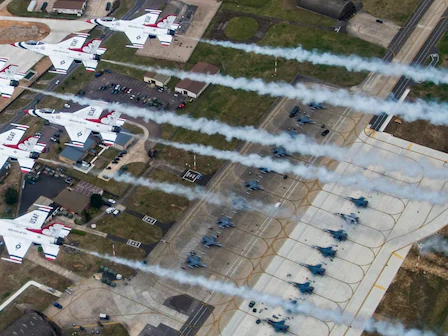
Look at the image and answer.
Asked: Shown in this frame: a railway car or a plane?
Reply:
plane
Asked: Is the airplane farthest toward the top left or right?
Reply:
left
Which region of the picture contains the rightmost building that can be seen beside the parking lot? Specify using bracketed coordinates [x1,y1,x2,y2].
[176,62,219,99]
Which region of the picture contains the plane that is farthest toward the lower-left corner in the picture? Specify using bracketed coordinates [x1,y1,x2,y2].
[0,204,72,264]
